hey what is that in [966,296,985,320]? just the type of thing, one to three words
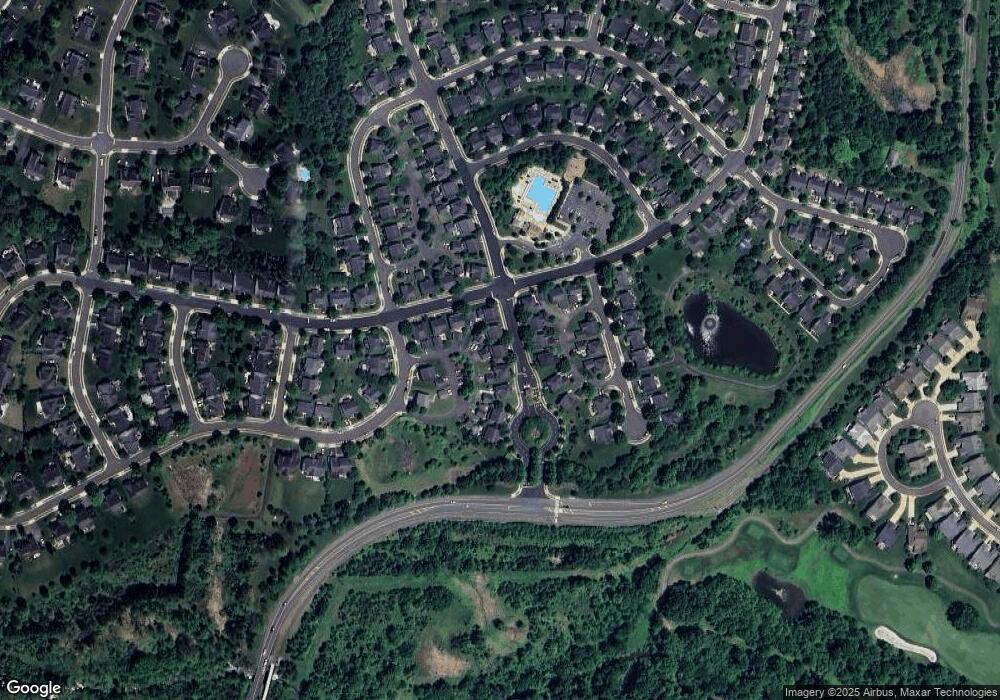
house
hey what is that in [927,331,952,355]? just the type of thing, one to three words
house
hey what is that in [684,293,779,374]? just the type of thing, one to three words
pond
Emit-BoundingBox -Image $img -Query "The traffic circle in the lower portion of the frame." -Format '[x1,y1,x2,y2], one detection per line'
[512,405,560,498]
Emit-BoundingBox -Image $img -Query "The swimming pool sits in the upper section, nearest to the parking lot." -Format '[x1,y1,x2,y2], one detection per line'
[512,168,562,232]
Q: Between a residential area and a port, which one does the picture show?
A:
residential area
